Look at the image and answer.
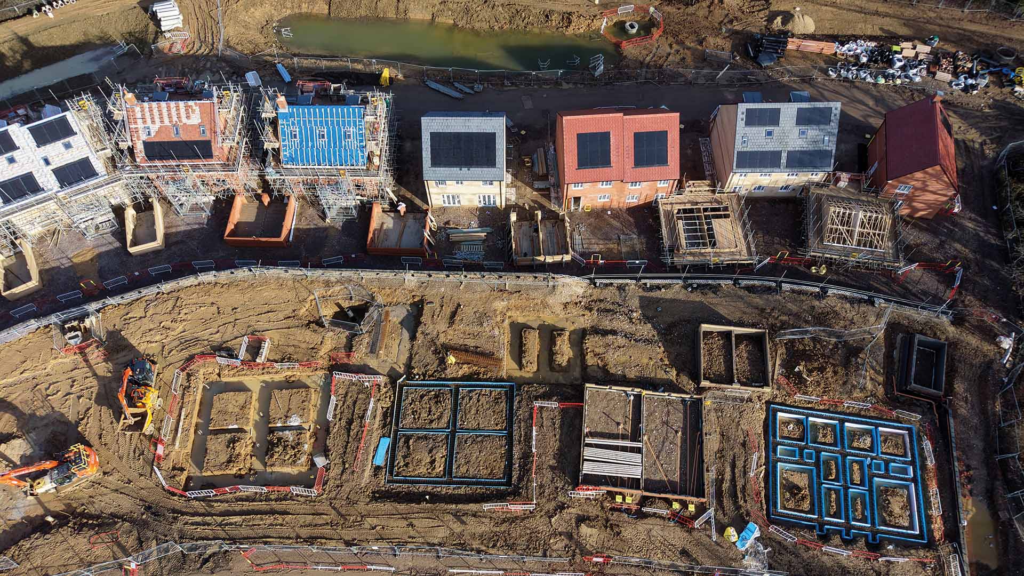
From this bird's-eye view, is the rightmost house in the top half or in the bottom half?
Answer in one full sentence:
The rightmost house sits in the top half of the picture.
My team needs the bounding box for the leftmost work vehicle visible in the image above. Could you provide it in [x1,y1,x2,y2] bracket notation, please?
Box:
[0,445,97,504]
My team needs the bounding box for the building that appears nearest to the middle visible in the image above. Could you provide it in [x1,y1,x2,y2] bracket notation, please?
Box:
[506,213,577,275]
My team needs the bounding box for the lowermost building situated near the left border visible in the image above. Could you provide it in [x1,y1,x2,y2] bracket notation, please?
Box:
[0,238,53,309]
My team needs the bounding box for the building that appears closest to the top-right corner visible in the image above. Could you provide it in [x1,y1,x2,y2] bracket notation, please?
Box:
[871,87,959,222]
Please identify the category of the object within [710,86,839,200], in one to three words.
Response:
house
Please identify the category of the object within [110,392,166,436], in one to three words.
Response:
truck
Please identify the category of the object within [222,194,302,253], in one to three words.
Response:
building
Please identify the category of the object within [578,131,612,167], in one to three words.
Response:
solar panel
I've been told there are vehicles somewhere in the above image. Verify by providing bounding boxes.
[86,356,163,428]
[0,445,97,504]
[110,392,166,436]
